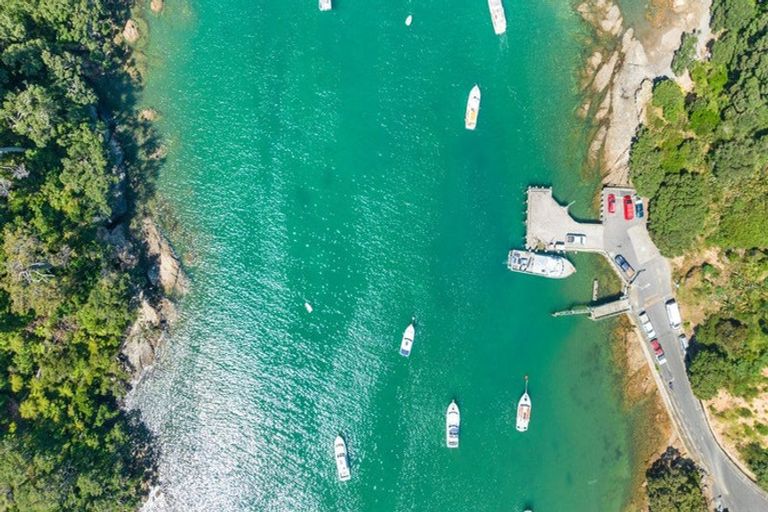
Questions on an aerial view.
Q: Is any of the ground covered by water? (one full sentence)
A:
Yes, water shows up in the scene.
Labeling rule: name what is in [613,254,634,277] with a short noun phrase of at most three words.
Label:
truck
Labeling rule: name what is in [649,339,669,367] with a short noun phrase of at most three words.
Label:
vehicle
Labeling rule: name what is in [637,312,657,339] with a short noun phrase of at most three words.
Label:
vehicle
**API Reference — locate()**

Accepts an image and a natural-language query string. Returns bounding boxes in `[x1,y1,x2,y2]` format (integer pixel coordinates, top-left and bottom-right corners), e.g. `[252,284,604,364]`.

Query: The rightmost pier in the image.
[586,299,630,319]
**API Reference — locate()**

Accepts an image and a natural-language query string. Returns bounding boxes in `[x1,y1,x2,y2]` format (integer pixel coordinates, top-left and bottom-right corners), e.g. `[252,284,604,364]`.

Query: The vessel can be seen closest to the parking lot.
[502,250,576,276]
